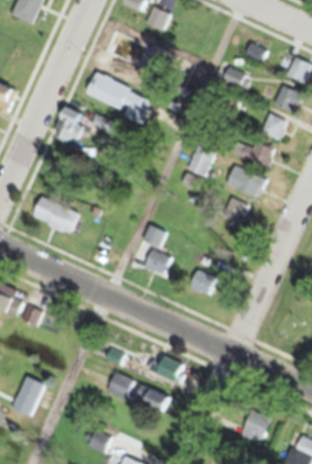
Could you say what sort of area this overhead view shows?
residential area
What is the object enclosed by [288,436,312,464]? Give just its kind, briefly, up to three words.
house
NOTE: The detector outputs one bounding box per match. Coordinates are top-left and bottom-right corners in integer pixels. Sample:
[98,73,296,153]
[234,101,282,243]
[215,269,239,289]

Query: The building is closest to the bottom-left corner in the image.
[16,377,45,416]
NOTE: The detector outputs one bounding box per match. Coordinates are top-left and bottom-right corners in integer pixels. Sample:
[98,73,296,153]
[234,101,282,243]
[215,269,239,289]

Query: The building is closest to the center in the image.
[144,224,169,247]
